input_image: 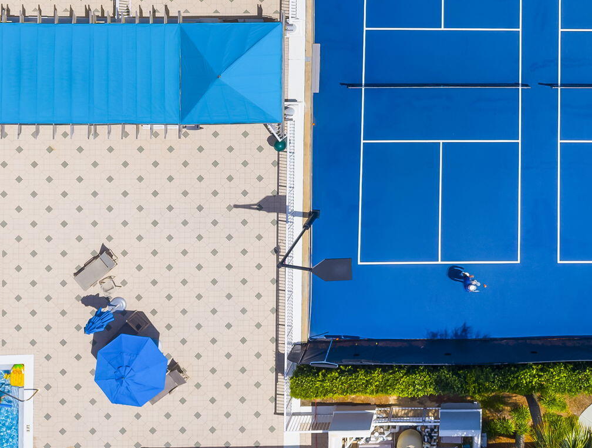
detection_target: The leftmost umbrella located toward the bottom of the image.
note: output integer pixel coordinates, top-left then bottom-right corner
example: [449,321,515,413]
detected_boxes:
[87,295,126,332]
